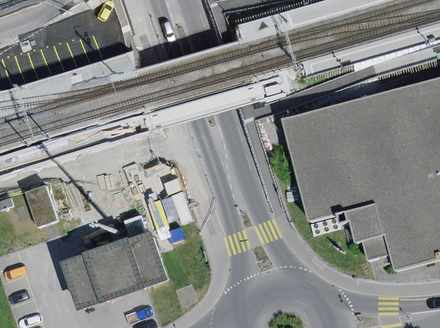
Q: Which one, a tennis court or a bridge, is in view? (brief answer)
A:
bridge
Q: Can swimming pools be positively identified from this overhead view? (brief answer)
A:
No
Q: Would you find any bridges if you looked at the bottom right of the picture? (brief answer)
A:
No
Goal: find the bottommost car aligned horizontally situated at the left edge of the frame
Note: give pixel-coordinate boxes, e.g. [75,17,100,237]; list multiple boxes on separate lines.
[18,315,42,328]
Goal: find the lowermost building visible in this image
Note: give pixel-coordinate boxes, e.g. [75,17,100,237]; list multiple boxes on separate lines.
[60,232,170,309]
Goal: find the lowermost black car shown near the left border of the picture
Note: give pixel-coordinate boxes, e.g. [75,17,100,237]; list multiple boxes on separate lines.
[8,290,30,304]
